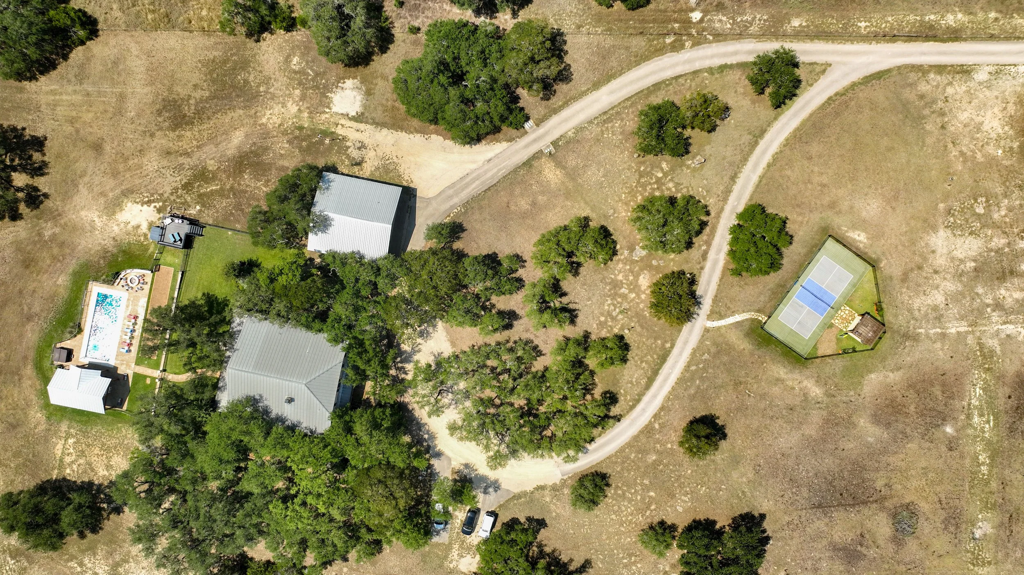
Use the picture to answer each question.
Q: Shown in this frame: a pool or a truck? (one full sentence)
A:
I can see a pool in this picture.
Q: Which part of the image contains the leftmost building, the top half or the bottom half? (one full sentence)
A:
The bottom half of the photo is where the leftmost building is.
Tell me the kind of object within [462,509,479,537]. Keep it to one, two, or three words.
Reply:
car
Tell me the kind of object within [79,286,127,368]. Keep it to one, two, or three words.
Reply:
swimming pool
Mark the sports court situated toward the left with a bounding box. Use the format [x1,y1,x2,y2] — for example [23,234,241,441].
[139,265,174,359]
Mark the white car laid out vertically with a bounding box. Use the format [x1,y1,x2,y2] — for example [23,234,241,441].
[478,511,495,541]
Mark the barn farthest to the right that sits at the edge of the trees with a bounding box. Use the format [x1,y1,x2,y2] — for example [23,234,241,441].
[307,172,404,265]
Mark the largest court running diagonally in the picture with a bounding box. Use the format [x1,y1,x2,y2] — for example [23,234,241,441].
[764,238,870,357]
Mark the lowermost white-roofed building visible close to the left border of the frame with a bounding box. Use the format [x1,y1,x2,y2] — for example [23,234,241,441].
[47,364,119,414]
